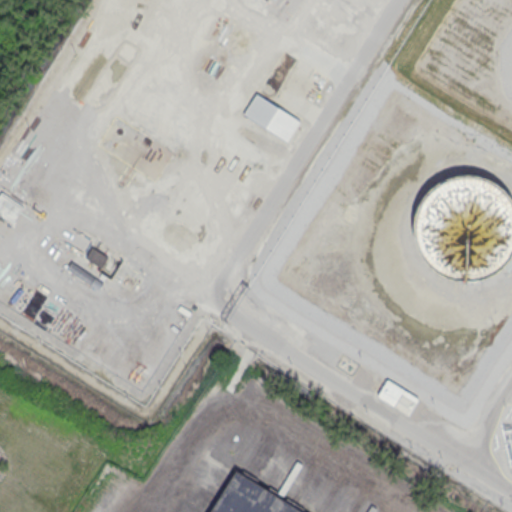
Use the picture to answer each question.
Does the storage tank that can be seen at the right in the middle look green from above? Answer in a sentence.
No, the storage tank that can be seen at the right in the middle is white.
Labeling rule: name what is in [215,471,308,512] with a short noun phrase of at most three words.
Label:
building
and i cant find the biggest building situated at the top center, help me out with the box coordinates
[245,94,300,142]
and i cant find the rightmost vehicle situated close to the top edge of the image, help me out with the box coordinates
[131,12,144,29]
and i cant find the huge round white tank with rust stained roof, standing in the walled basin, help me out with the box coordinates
[412,176,512,283]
